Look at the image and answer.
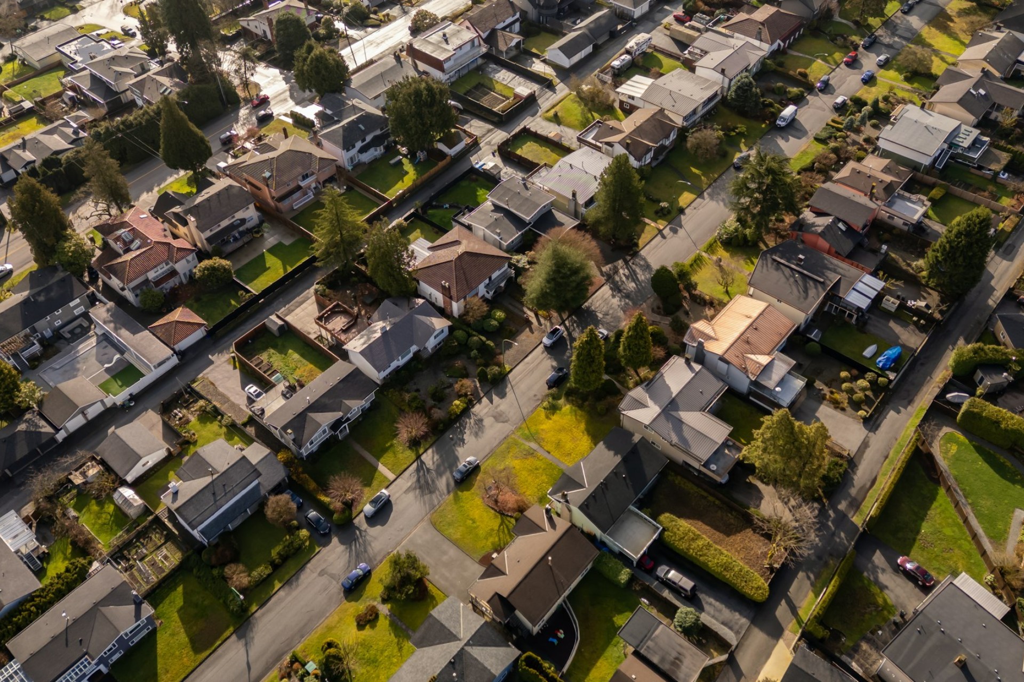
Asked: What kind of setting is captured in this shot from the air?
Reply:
residential area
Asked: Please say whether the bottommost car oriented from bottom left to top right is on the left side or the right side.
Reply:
left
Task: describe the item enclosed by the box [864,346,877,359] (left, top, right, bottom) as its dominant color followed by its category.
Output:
gray boat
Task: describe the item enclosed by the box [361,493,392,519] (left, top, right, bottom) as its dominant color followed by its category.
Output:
gray car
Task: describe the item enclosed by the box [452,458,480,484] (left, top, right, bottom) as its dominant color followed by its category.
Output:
gray car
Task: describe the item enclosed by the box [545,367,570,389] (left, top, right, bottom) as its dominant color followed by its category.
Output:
black car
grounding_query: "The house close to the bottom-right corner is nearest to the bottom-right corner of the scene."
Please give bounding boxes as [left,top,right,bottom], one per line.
[872,571,1024,682]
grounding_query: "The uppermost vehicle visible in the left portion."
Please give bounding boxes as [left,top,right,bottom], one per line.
[118,22,139,37]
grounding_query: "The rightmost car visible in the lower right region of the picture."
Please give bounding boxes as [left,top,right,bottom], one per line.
[897,559,934,586]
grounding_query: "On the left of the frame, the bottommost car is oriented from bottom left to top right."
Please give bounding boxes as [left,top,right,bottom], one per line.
[340,564,372,593]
